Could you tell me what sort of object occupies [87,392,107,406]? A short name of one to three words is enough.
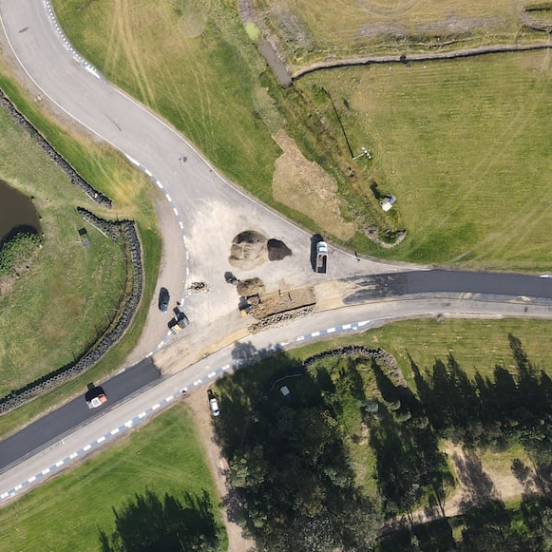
work vehicle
